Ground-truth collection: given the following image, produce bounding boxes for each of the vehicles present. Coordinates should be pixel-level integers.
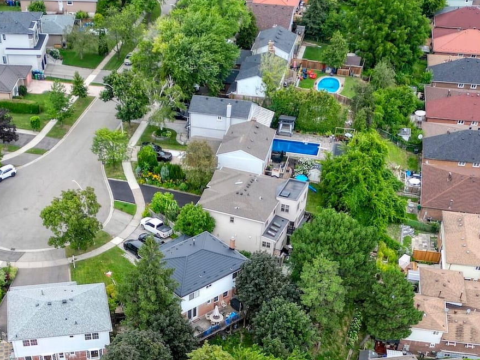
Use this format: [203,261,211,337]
[121,241,146,261]
[140,218,175,239]
[124,51,134,64]
[141,143,172,160]
[0,164,17,182]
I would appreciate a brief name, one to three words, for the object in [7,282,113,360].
house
